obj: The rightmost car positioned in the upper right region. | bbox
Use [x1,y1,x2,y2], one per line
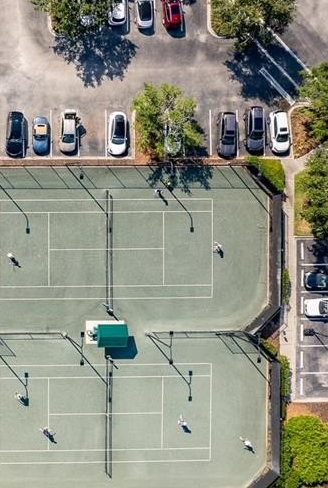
[266,112,291,154]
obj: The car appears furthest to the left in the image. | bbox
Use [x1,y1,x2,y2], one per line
[5,112,25,157]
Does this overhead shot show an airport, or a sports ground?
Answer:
sports ground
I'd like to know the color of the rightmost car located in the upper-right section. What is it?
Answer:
white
